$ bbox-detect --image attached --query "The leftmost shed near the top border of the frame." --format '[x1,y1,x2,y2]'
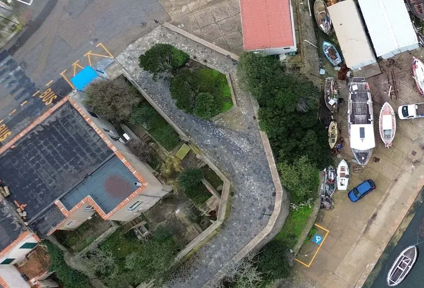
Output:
[240,0,301,54]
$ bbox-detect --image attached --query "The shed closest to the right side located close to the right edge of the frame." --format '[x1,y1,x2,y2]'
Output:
[359,0,423,61]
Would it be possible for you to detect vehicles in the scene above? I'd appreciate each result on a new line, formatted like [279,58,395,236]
[398,102,424,122]
[347,178,378,204]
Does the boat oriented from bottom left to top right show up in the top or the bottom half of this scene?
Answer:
bottom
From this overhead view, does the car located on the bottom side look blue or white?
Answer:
blue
